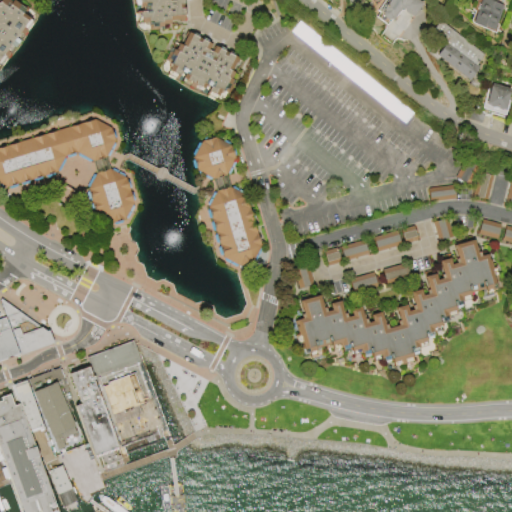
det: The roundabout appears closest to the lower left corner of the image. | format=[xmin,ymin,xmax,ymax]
[46,300,84,338]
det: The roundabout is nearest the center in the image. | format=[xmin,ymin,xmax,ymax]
[235,356,275,396]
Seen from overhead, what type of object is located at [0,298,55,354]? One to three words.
building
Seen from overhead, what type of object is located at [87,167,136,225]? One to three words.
building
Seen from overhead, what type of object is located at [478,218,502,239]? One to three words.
house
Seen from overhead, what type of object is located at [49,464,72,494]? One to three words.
shed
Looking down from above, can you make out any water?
Yes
